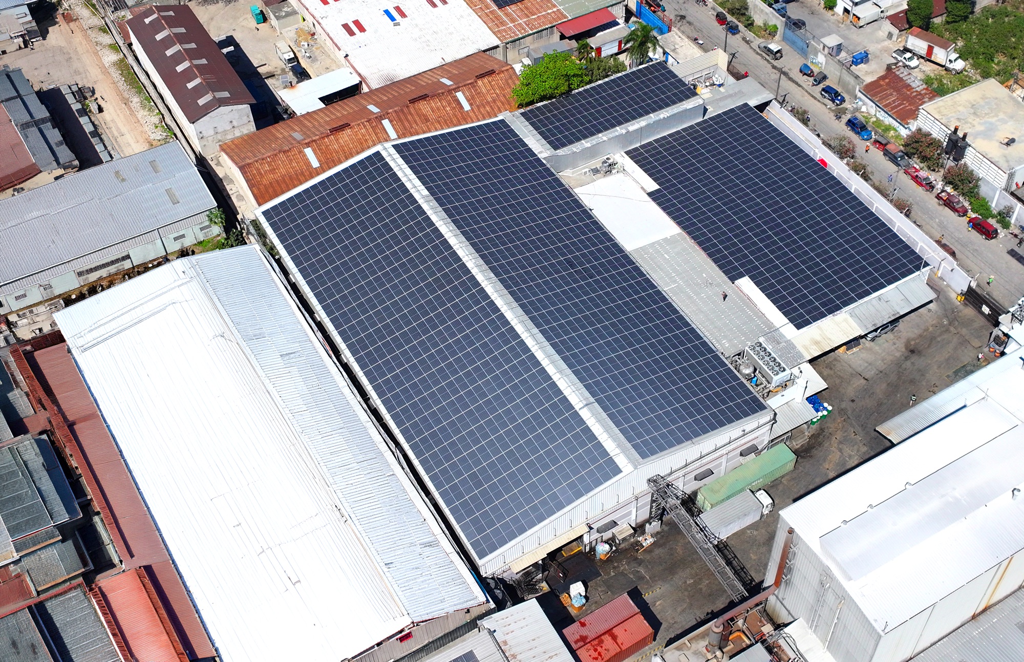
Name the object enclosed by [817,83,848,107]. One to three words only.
car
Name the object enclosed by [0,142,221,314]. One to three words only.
building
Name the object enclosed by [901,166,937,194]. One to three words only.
truck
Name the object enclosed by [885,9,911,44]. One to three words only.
shed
